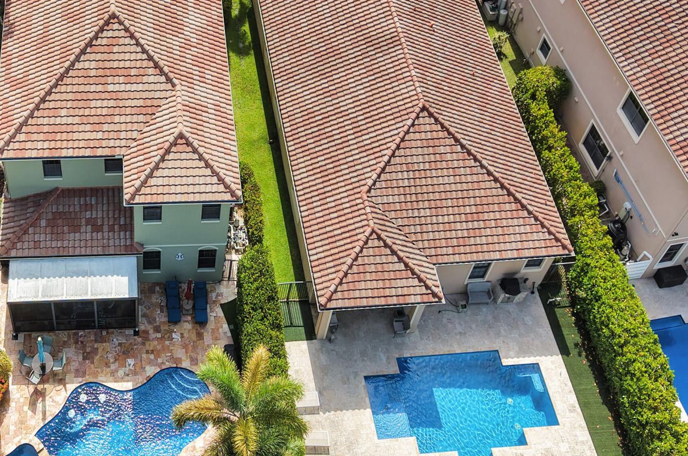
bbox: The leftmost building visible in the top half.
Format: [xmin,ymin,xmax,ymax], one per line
[0,0,247,282]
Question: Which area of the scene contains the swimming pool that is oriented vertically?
bottom right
